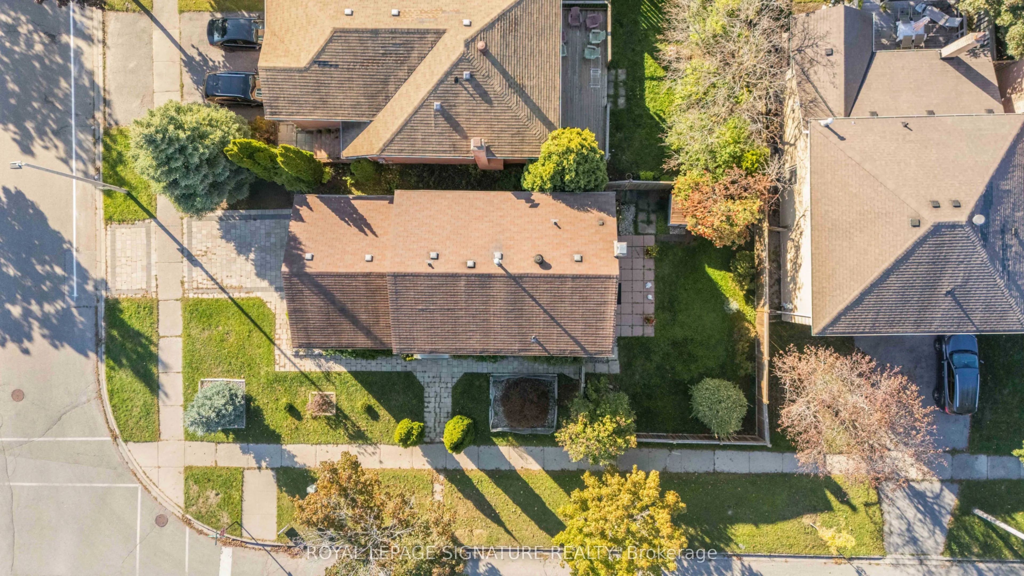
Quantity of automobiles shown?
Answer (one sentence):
The picture shows 3 automobiles.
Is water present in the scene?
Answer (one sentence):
No, the scene doesn't show any water.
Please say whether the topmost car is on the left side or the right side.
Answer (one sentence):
The topmost car is on the left side of the image.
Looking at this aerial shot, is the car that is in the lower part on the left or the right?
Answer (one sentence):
The car that is in the lower part sits on the right side.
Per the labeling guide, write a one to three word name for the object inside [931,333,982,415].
car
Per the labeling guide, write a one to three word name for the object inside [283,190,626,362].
house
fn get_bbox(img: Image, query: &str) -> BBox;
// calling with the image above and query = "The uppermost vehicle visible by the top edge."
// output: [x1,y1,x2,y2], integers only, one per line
[208,13,265,55]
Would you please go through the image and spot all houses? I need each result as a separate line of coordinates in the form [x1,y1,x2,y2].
[258,0,562,171]
[283,190,626,362]
[781,5,1024,336]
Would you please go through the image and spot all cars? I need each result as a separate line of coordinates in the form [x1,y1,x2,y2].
[208,13,265,55]
[204,68,264,110]
[931,333,982,415]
